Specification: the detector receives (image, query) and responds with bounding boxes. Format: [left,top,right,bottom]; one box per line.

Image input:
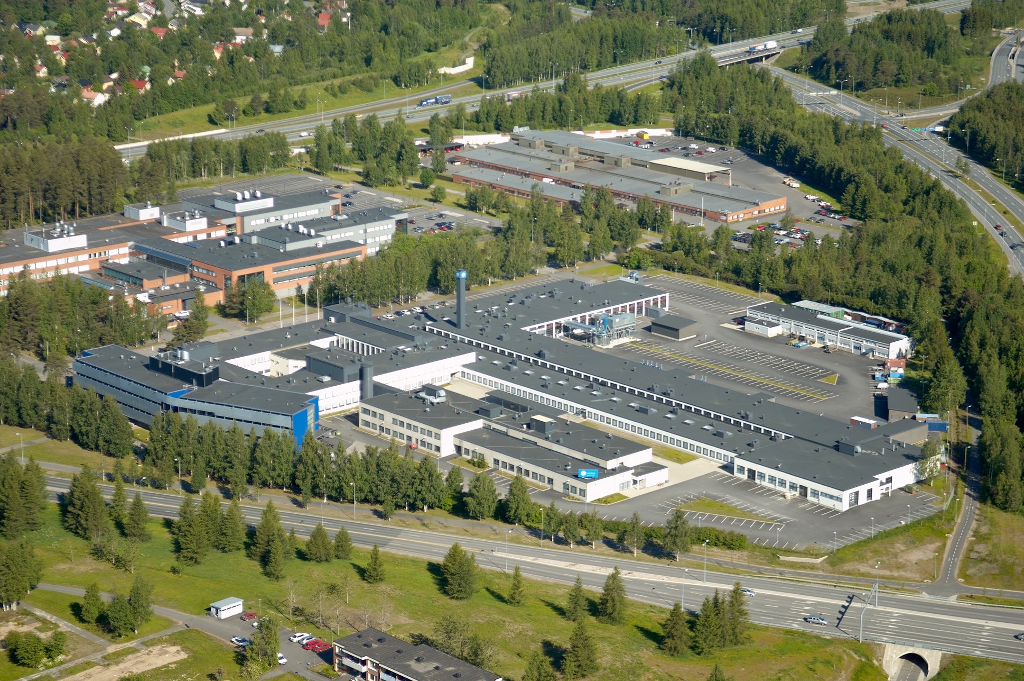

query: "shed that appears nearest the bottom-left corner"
[209,595,242,619]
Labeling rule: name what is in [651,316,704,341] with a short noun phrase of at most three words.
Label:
building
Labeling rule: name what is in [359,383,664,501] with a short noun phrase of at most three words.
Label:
building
